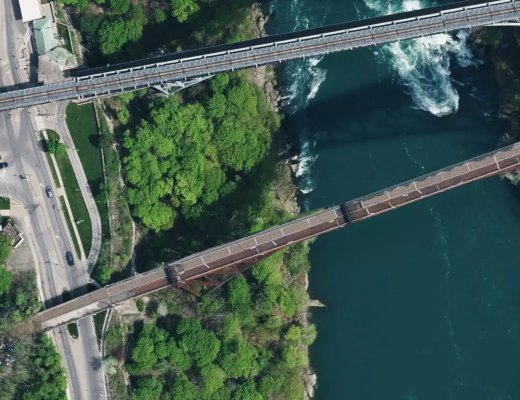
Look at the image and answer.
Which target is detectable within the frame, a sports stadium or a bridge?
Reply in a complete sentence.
The image shows a bridge.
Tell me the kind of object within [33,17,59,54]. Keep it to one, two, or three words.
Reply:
building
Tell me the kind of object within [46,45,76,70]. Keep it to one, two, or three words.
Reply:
building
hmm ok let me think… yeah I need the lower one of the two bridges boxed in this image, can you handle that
[35,140,520,334]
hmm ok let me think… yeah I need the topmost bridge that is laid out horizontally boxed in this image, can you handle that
[0,0,520,110]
